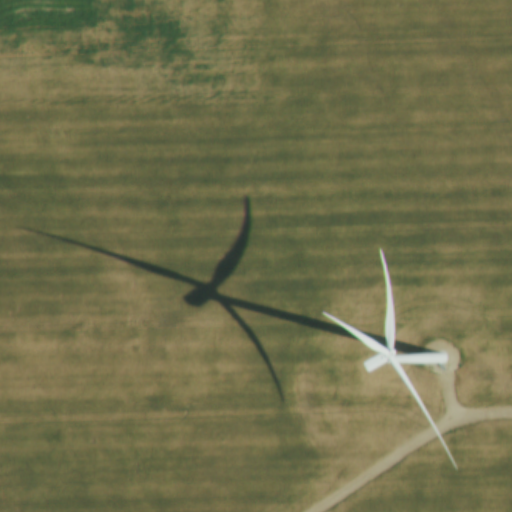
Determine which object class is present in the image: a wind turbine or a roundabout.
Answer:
wind turbine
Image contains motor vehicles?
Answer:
No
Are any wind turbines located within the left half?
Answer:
No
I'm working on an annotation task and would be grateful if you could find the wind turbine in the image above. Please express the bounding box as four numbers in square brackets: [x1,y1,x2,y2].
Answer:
[323,246,457,466]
